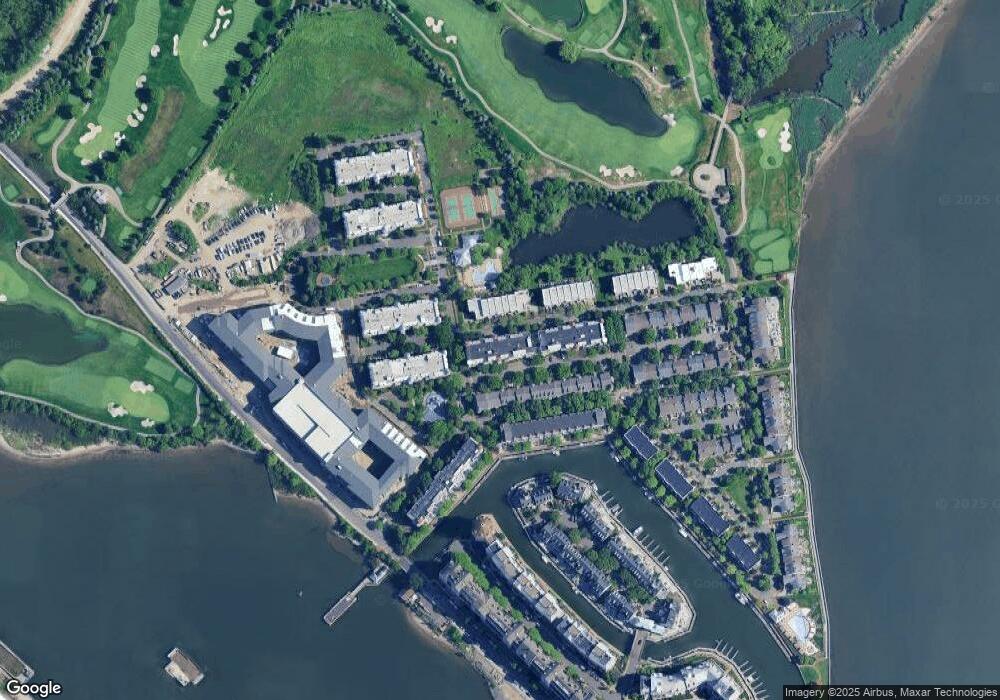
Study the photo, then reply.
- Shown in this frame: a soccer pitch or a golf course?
golf course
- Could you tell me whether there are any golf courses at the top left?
Yes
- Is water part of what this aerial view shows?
Yes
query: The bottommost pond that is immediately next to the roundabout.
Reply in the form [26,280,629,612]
[511,198,699,265]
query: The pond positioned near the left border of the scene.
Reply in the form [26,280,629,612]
[0,304,108,368]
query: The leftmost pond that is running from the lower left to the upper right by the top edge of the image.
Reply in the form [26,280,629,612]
[745,18,863,104]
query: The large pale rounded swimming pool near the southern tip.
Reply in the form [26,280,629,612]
[781,602,820,655]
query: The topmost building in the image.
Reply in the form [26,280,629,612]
[334,147,414,186]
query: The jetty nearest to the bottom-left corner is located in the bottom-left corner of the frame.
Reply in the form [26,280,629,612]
[0,640,34,684]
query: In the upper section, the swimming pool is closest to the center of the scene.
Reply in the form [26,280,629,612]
[460,258,502,288]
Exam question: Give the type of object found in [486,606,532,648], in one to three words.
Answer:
building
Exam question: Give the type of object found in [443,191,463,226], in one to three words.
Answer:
tennis court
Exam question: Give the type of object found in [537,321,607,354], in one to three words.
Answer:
building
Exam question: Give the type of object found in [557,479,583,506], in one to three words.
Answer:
house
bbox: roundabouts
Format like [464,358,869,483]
[691,163,729,195]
